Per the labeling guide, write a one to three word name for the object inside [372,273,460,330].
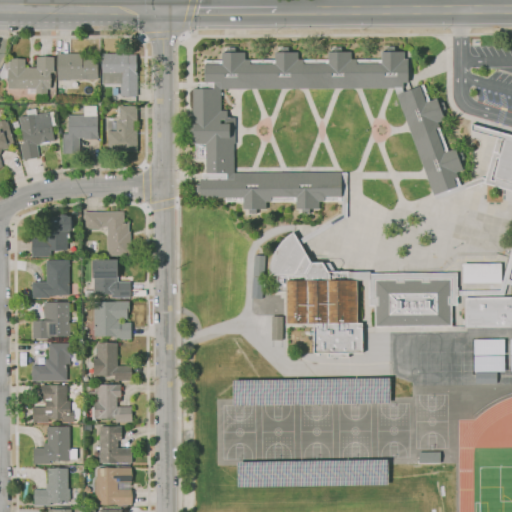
building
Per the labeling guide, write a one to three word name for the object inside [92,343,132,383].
house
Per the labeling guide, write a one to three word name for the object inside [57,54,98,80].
house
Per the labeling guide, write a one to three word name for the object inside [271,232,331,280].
building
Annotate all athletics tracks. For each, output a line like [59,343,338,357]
[458,394,512,512]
